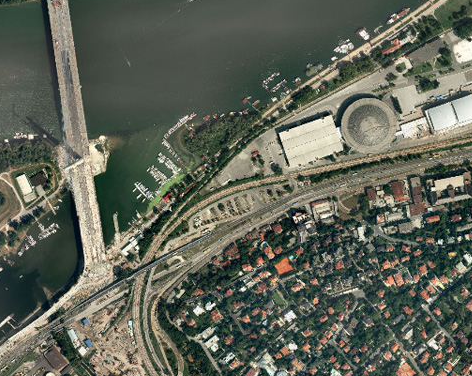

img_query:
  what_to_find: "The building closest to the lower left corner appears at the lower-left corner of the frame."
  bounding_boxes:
[44,345,70,371]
